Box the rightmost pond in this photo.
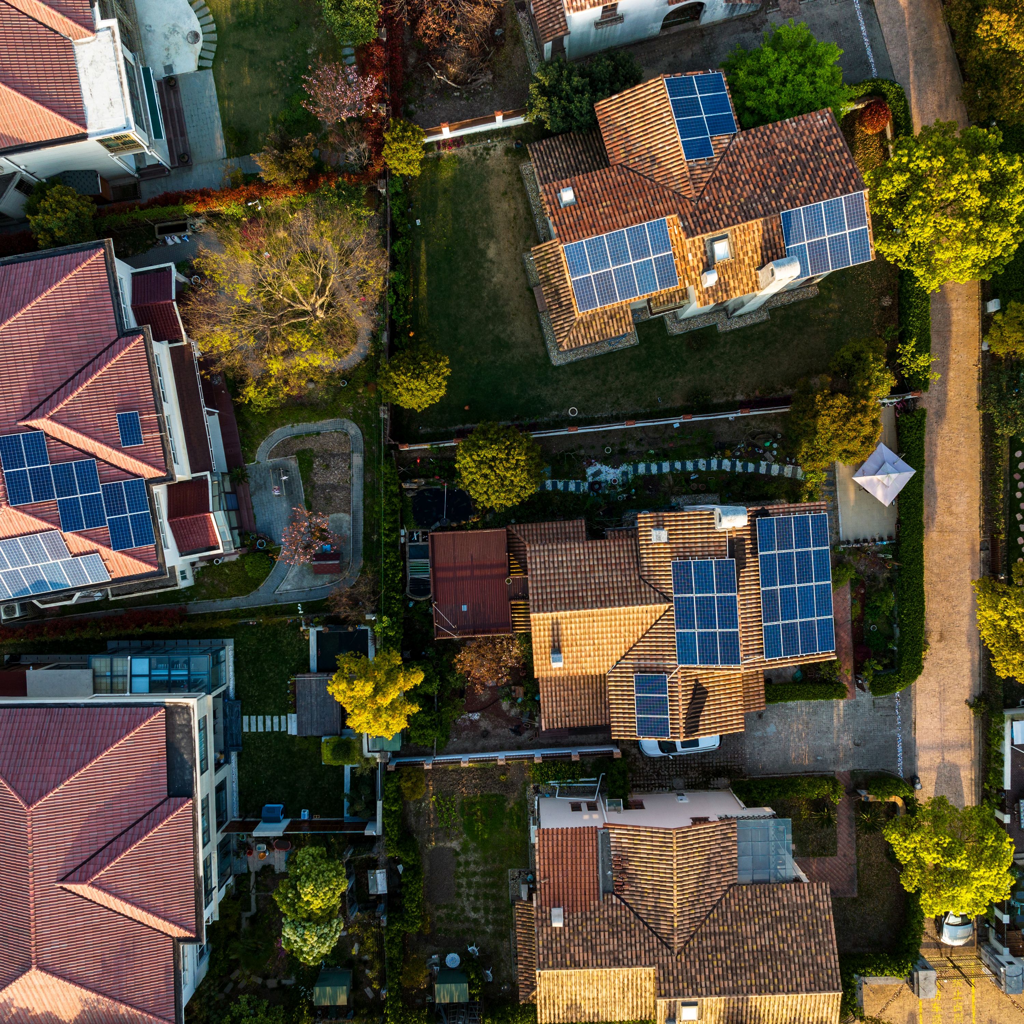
[412,487,473,525]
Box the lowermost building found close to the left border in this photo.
[0,645,233,1024]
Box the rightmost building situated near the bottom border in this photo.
[515,777,844,1024]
